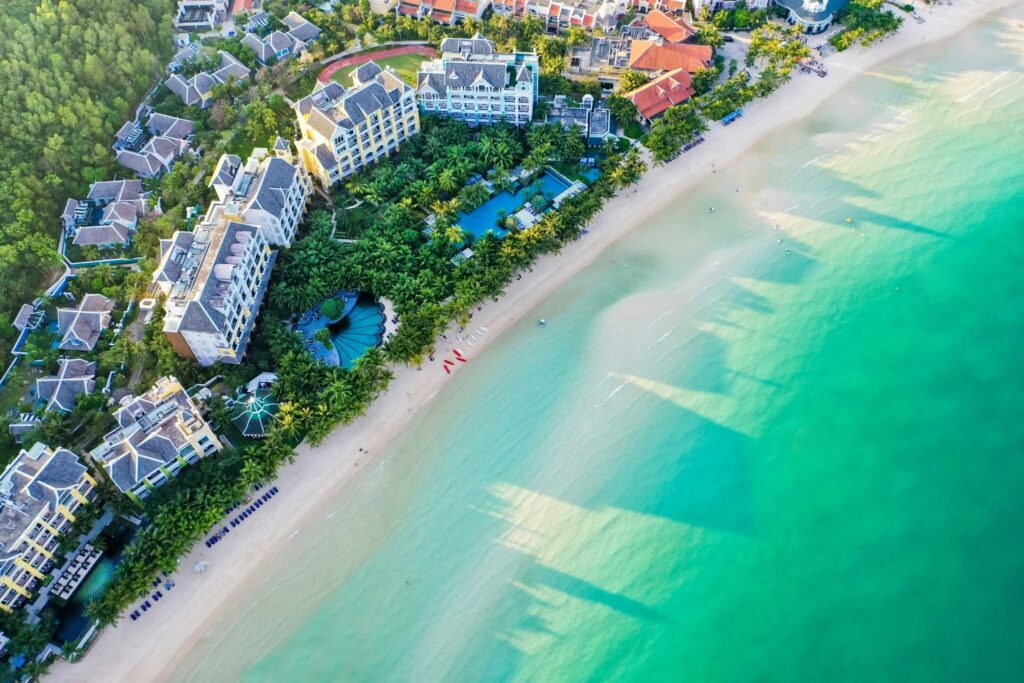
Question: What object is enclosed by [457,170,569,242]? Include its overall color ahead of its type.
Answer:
blue swimming pool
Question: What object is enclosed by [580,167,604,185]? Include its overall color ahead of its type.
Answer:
blue swimming pool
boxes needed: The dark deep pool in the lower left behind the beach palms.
[53,513,130,645]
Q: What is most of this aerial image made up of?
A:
water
